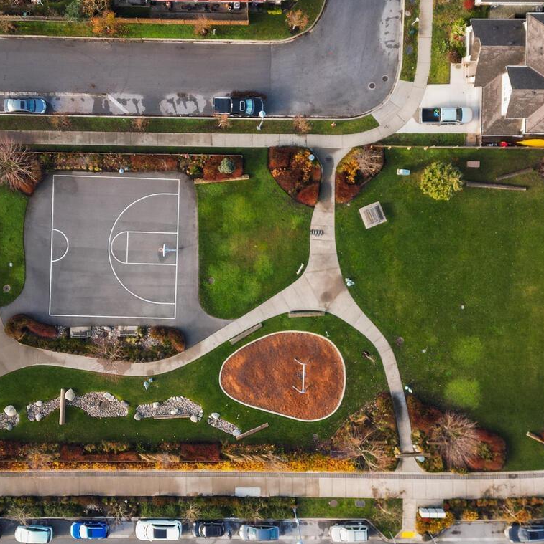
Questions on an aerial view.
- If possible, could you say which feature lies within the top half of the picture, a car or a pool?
car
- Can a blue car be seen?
Yes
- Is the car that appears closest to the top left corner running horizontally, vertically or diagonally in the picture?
horizontally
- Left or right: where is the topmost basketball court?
left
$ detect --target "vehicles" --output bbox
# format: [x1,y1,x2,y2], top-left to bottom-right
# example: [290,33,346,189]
[69,522,108,544]
[330,524,370,544]
[422,102,475,124]
[2,94,45,115]
[240,524,280,544]
[195,521,226,543]
[507,523,544,544]
[136,520,181,544]
[14,525,52,544]
[213,93,264,116]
